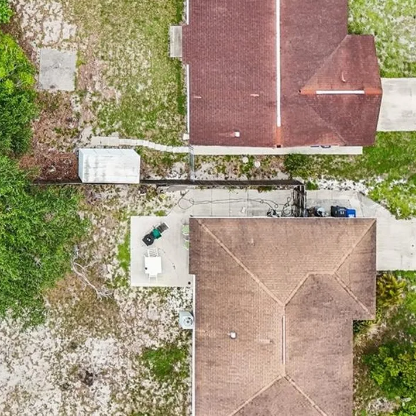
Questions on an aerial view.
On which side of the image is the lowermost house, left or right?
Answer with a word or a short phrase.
right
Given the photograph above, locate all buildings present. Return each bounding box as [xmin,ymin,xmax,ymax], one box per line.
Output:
[182,0,384,149]
[79,148,142,183]
[189,215,376,416]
